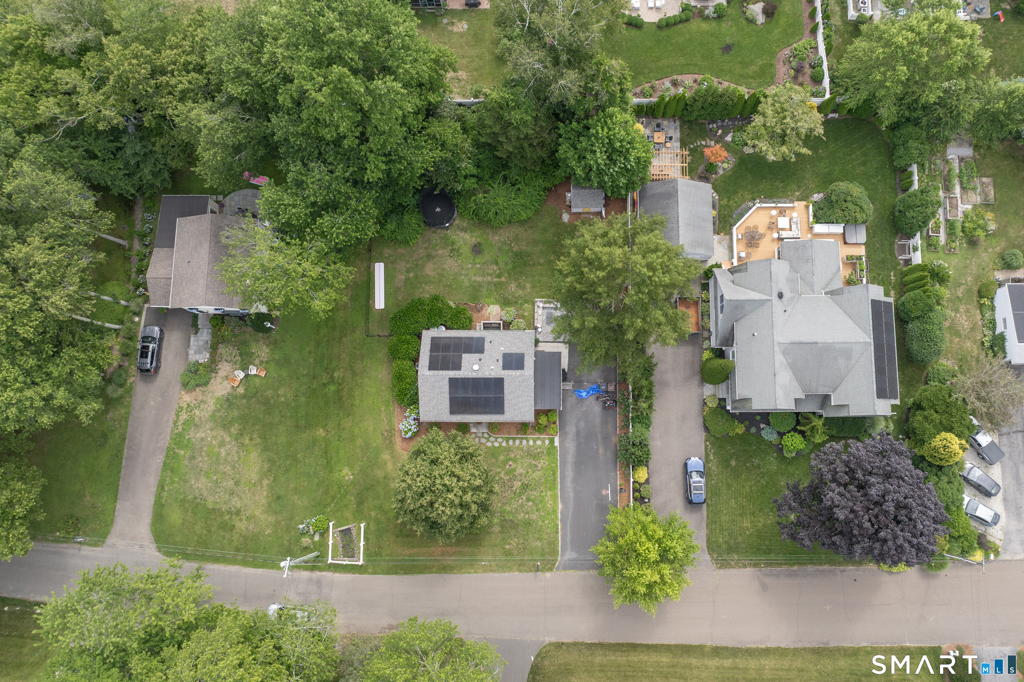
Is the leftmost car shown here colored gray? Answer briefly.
Yes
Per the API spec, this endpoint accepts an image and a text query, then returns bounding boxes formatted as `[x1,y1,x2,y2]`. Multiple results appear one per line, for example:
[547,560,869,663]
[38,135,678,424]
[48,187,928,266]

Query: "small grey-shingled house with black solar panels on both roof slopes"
[419,330,562,423]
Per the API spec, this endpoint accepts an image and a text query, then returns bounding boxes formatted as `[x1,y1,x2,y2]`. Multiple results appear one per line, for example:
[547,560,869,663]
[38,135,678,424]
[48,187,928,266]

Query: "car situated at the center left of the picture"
[135,326,163,374]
